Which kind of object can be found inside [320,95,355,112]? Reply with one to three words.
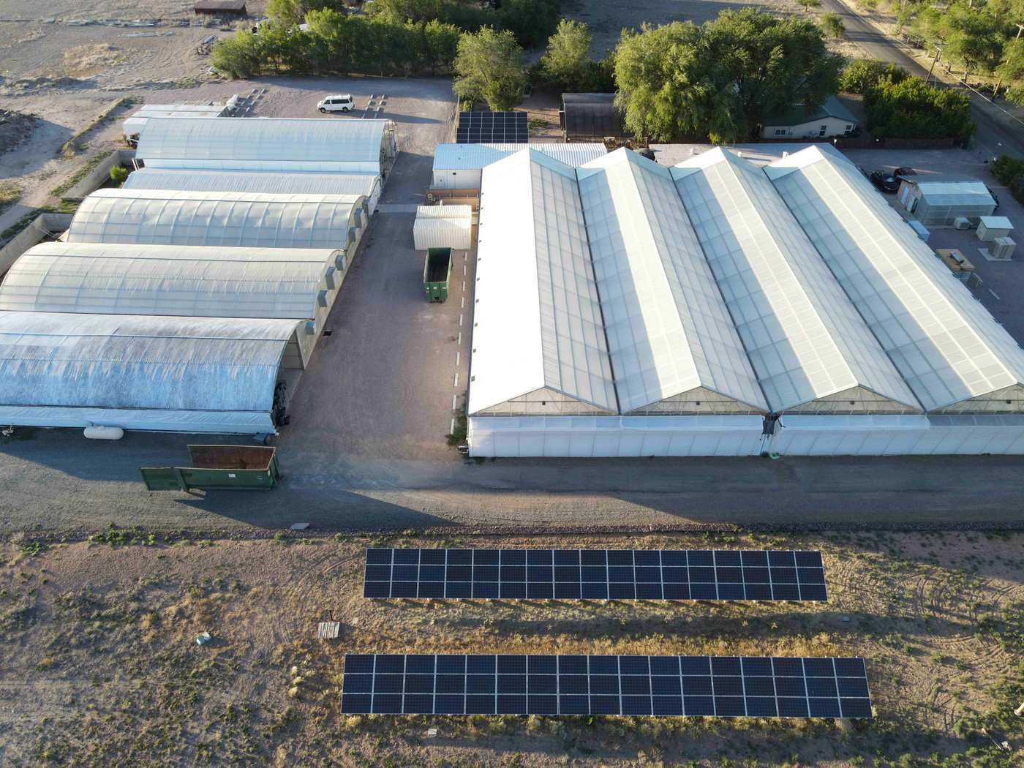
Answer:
vehicle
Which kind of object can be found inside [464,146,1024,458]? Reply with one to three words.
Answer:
greenhouse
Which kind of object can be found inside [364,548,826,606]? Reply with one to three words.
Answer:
solar array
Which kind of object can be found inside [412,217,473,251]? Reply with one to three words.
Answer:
shipping container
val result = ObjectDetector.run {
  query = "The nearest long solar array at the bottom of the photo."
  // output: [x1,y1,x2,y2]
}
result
[339,653,870,721]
